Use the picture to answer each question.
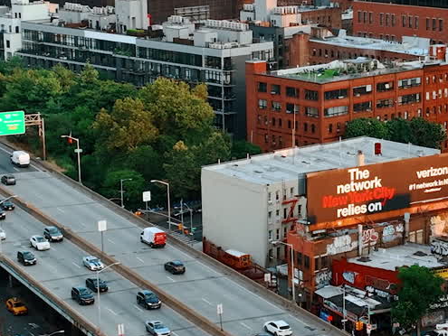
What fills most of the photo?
buildings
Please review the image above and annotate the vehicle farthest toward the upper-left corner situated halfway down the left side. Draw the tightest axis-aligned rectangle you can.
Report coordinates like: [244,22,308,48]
[9,147,28,164]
